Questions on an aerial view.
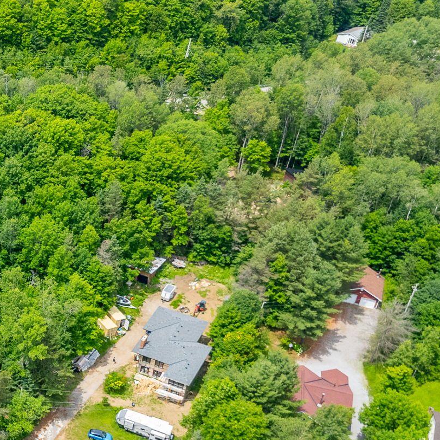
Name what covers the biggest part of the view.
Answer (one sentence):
The largest share of the image is taken up by trees.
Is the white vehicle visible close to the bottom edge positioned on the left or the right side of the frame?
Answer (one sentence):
The white vehicle visible close to the bottom edge sits on the left side.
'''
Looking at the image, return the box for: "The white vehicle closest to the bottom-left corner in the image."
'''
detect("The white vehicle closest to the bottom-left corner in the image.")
[119,410,181,440]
